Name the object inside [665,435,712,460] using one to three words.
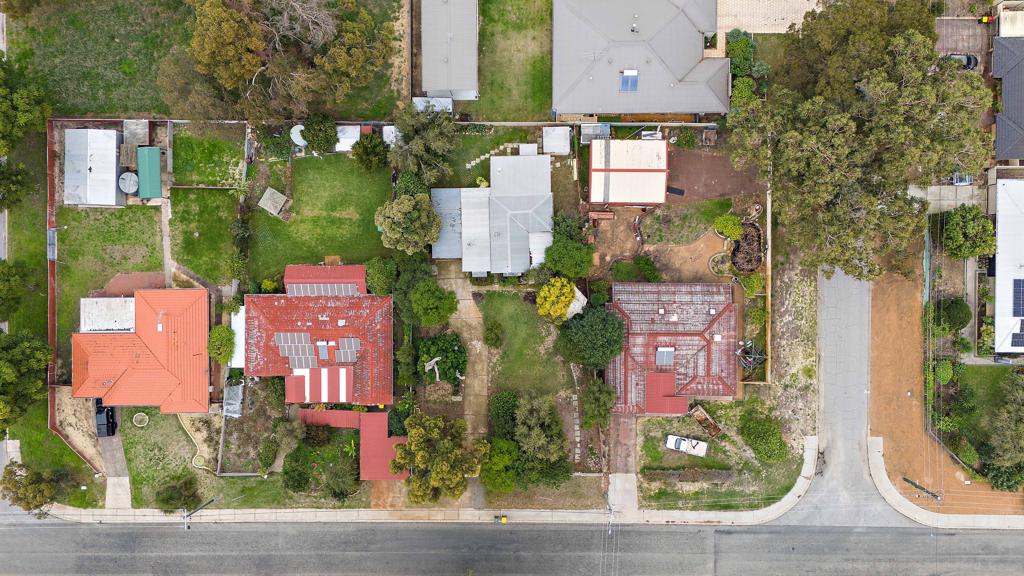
truck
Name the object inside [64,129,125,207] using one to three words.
shed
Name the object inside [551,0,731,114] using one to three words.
house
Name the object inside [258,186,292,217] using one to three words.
gazebo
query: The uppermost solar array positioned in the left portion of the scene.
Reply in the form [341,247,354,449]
[287,283,357,295]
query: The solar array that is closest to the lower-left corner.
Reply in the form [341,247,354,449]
[275,332,317,368]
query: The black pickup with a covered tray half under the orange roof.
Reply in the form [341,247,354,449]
[93,399,115,435]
